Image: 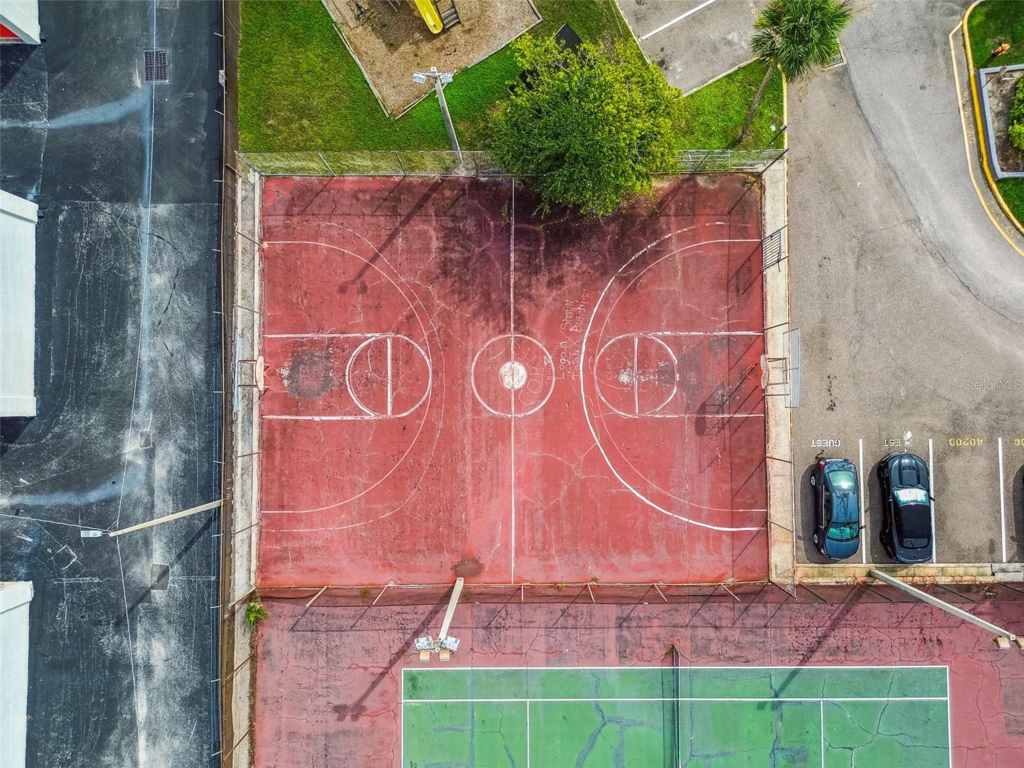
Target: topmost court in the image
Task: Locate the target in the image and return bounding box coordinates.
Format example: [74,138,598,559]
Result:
[257,174,772,587]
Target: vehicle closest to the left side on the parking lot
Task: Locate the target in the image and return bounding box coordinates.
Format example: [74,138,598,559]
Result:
[809,455,868,560]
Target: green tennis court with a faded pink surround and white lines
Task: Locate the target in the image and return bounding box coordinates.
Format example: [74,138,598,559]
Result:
[254,580,1024,768]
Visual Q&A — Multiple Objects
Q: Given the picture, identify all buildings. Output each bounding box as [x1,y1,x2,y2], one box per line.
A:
[0,187,43,418]
[0,582,32,768]
[0,0,45,44]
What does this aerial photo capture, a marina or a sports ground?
sports ground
